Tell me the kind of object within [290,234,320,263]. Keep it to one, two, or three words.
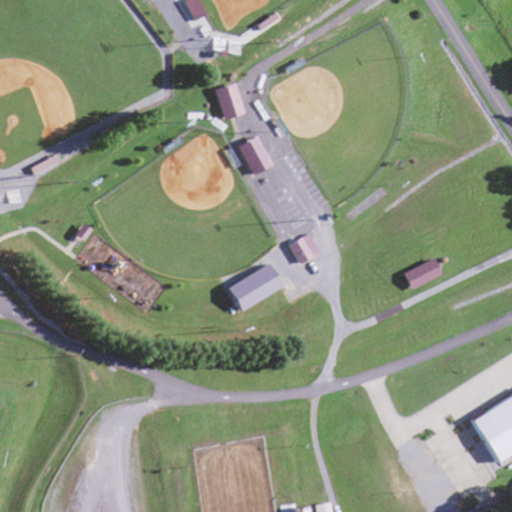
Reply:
building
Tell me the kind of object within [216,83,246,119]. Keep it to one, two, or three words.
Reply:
building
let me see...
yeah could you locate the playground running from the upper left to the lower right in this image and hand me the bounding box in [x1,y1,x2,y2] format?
[76,234,163,314]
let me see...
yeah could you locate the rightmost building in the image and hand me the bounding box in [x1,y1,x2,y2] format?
[470,393,512,466]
